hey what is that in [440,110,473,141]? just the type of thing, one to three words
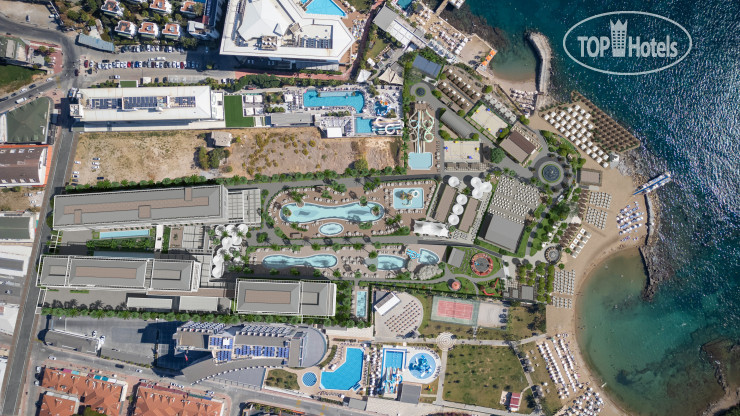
building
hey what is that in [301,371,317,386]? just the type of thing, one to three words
swimming pool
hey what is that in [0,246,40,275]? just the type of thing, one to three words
shed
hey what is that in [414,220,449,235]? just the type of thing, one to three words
tent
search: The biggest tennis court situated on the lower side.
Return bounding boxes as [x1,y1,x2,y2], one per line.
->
[431,294,481,328]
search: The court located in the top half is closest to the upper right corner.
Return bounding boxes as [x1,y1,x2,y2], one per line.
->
[470,103,509,141]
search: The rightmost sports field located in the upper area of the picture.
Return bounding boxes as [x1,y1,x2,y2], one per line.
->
[224,95,254,128]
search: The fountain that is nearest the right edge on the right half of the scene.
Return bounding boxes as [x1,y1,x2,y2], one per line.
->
[541,162,562,183]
